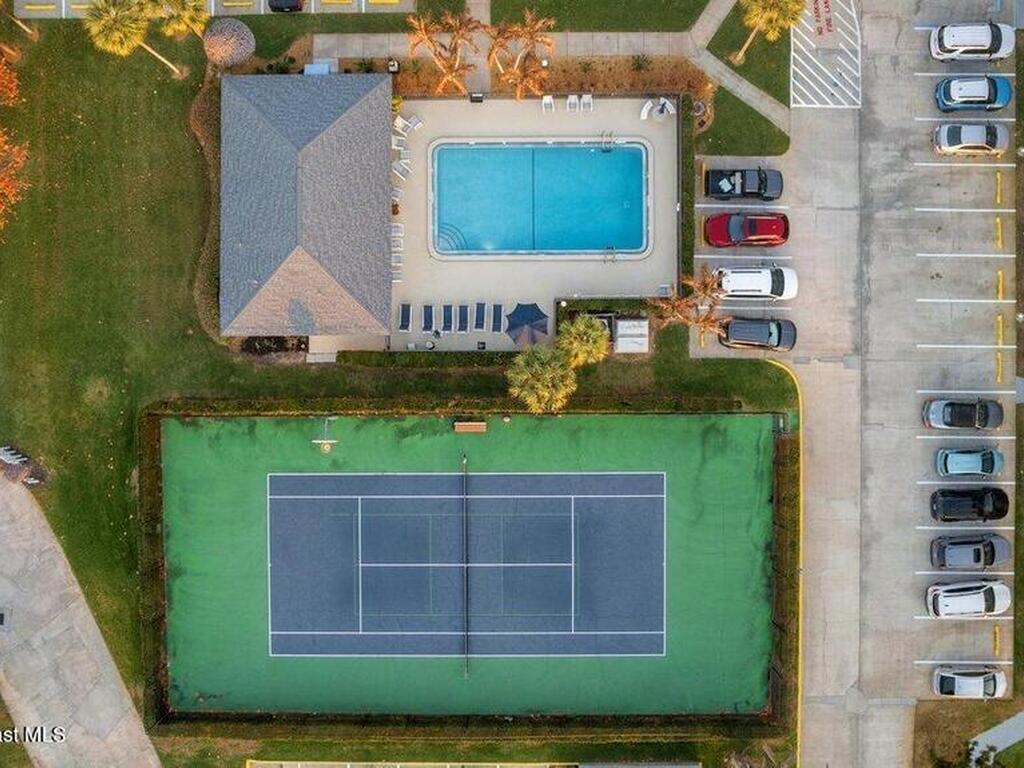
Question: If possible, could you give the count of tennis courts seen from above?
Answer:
1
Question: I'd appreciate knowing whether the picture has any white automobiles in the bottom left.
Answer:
No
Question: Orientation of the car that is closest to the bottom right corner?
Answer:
from side to side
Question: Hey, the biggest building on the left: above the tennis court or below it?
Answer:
above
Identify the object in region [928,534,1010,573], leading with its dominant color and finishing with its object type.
gray car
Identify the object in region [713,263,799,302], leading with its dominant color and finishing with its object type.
white car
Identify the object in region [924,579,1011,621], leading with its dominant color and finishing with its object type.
white car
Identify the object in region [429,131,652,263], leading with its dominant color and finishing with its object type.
blue swimming pool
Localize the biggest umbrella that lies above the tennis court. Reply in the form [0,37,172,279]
[505,306,547,348]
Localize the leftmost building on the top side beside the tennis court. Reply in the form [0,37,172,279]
[220,64,392,362]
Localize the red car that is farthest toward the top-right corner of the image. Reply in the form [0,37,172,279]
[703,209,790,248]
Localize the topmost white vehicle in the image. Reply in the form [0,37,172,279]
[929,18,1014,63]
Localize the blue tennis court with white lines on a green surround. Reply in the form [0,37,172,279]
[160,413,798,713]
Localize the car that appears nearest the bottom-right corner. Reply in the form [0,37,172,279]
[930,663,1007,704]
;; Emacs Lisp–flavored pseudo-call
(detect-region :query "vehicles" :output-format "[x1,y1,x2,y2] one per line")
[934,73,1009,114]
[920,397,1003,434]
[713,263,799,302]
[703,209,790,248]
[269,0,304,14]
[718,315,797,352]
[934,445,1004,480]
[928,487,1009,526]
[931,120,1009,159]
[702,163,784,202]
[928,534,1010,573]
[929,18,1014,63]
[930,663,1007,704]
[924,579,1011,621]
